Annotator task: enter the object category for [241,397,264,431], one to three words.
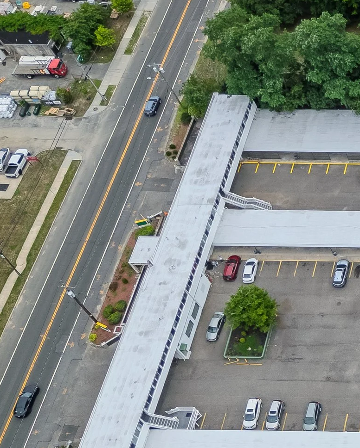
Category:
car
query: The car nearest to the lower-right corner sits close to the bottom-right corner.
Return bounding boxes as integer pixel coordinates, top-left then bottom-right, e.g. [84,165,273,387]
[301,399,323,432]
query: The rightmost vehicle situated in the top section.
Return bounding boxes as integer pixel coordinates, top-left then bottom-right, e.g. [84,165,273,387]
[142,94,164,118]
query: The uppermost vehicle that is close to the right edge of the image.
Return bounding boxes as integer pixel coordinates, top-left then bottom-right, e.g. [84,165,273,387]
[332,259,350,288]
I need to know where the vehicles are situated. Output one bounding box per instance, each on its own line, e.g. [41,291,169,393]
[222,255,242,283]
[241,257,260,286]
[241,397,264,431]
[264,398,285,431]
[2,148,32,179]
[205,311,226,343]
[15,385,41,419]
[0,149,12,173]
[301,399,323,432]
[142,94,164,118]
[332,259,350,288]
